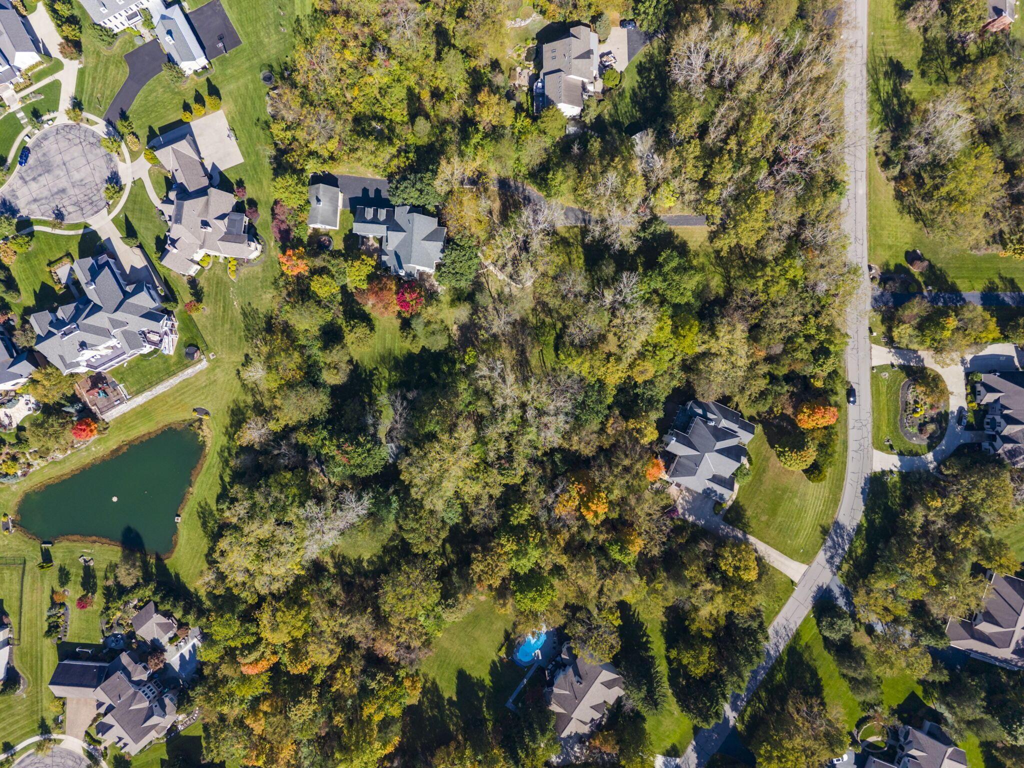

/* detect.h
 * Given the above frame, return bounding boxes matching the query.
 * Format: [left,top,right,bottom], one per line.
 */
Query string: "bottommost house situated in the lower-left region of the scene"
[47,647,181,755]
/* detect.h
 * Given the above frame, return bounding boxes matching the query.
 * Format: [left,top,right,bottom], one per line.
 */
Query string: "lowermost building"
[857,714,967,768]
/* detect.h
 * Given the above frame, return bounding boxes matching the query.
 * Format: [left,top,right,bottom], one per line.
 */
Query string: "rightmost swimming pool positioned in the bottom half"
[516,632,548,663]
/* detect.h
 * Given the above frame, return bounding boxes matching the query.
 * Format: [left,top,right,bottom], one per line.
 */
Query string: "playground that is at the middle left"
[76,373,124,415]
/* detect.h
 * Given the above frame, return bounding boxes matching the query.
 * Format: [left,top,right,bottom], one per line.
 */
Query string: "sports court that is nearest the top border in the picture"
[186,0,242,58]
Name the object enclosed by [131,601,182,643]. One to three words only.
building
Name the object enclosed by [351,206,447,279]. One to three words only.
house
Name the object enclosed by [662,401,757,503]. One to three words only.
house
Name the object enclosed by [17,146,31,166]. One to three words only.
car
